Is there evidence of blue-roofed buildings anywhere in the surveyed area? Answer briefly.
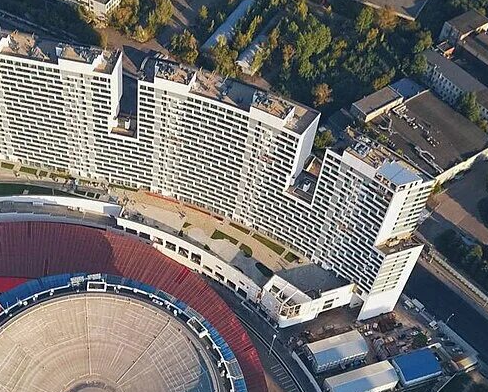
Yes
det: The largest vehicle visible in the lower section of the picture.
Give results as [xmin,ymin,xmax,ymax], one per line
[410,293,428,310]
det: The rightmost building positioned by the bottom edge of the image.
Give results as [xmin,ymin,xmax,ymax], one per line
[446,354,480,377]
